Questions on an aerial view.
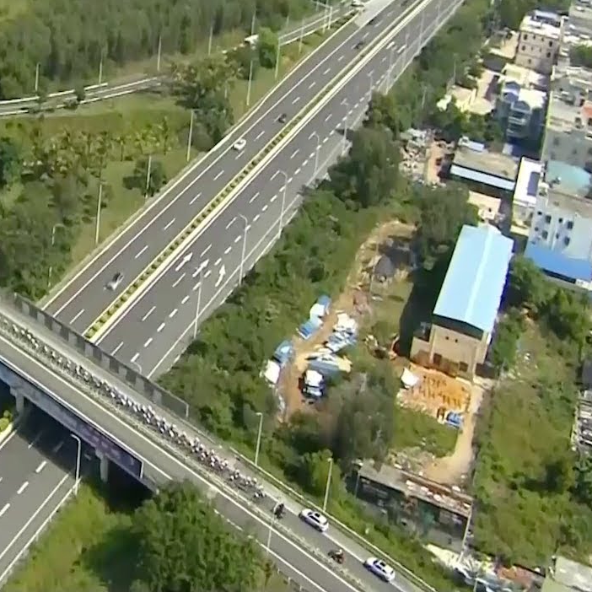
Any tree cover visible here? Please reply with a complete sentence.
Yes, the picture does contain tree cover.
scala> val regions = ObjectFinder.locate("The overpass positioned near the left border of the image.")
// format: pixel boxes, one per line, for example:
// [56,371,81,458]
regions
[0,290,236,486]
